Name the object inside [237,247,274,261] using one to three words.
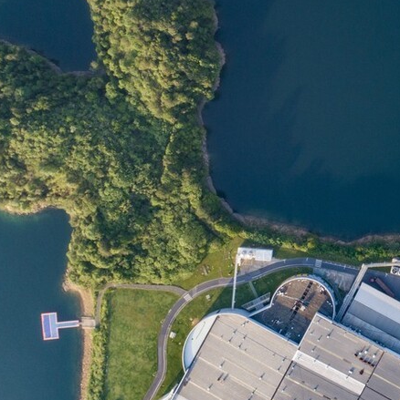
building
